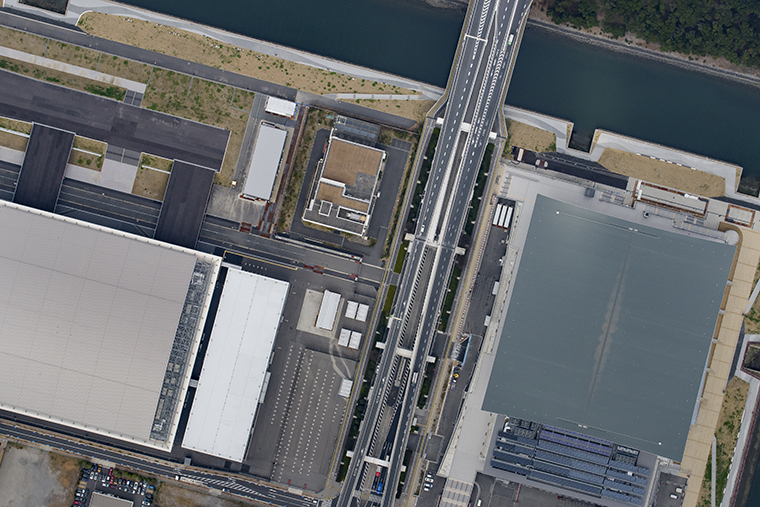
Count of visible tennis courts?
0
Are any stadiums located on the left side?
No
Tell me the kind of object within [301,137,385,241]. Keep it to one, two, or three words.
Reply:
building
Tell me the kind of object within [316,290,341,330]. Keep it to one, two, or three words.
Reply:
shed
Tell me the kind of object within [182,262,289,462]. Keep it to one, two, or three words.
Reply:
building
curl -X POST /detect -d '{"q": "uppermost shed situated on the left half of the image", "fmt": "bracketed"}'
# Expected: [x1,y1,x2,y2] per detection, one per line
[265,97,296,117]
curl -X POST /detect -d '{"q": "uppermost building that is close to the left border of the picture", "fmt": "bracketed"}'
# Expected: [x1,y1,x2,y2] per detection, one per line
[0,201,221,451]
